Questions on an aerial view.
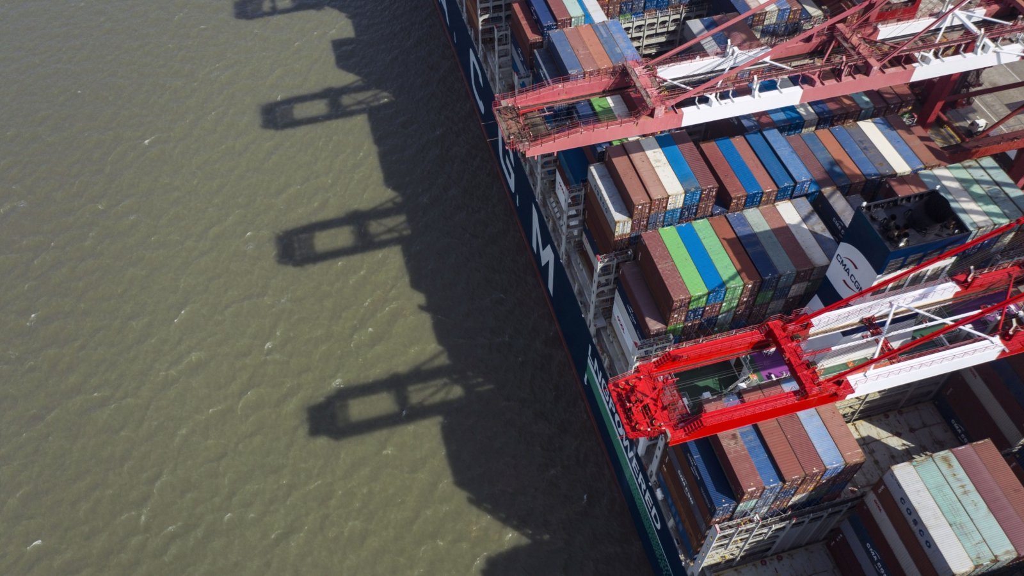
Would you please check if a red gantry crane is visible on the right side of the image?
Yes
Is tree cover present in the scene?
No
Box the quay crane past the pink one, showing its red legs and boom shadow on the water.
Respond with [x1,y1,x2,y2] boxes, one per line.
[804,0,963,64]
